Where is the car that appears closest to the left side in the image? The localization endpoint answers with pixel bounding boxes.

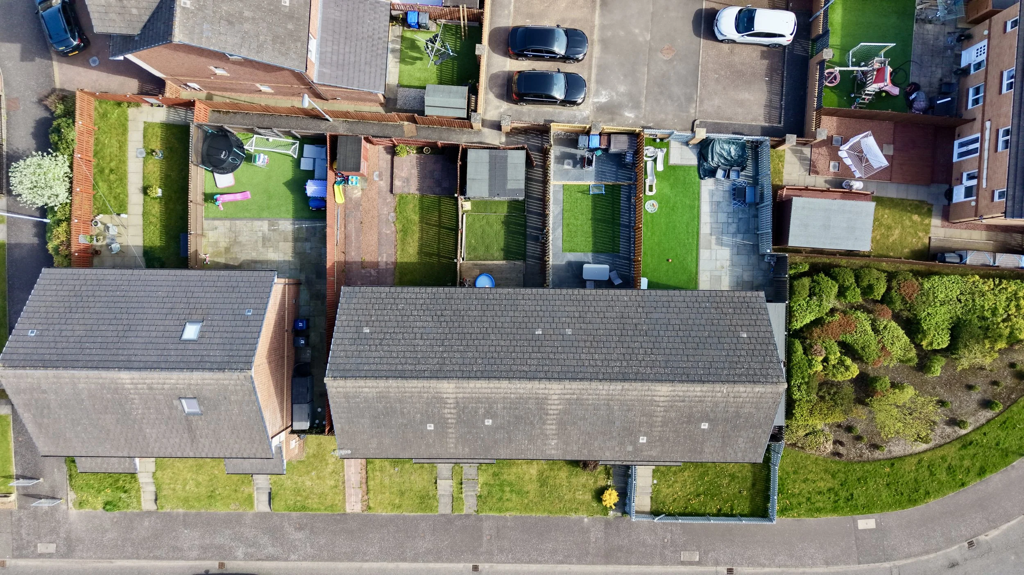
[37,0,90,60]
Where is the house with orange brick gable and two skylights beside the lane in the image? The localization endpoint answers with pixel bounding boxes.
[0,268,302,477]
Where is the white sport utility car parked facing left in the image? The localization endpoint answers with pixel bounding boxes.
[715,6,792,47]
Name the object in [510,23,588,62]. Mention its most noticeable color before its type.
black car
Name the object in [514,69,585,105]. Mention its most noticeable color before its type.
black car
